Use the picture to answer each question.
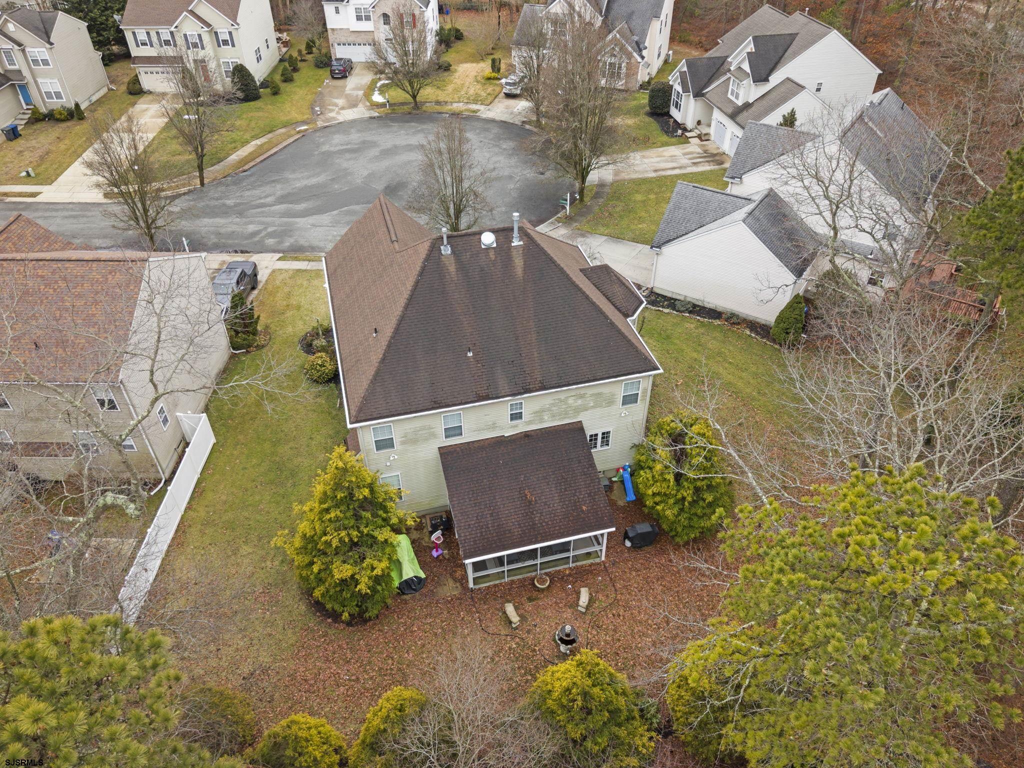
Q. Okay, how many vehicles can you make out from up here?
3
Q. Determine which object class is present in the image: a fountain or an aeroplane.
fountain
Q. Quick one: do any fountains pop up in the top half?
No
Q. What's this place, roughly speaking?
residential area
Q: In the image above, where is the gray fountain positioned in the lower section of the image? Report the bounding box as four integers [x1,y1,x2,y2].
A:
[552,621,581,657]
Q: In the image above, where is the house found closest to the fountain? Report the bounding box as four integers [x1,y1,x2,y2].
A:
[323,196,667,594]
